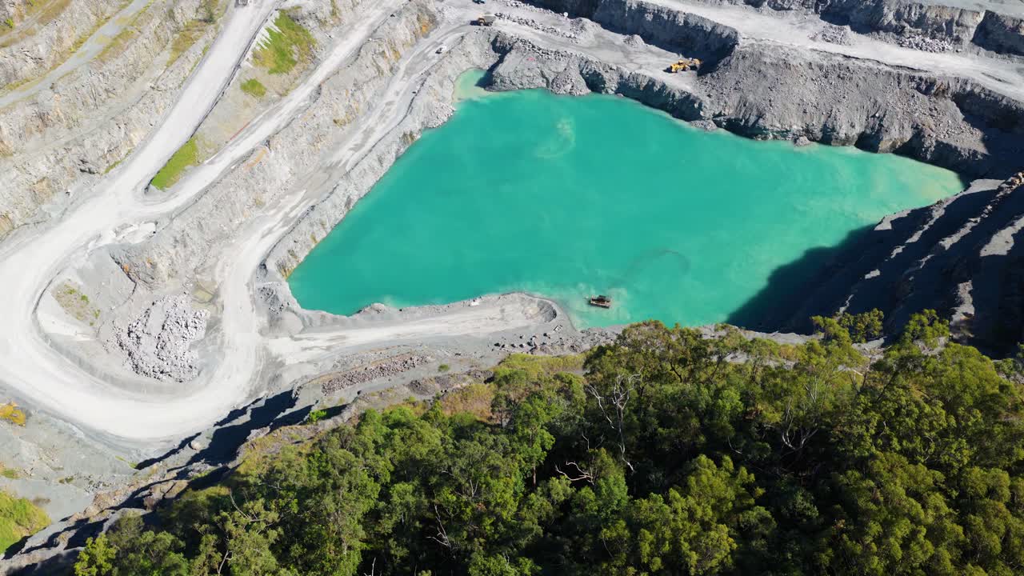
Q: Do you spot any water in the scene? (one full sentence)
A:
Yes, there is water in the image.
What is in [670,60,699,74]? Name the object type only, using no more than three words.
work vehicle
